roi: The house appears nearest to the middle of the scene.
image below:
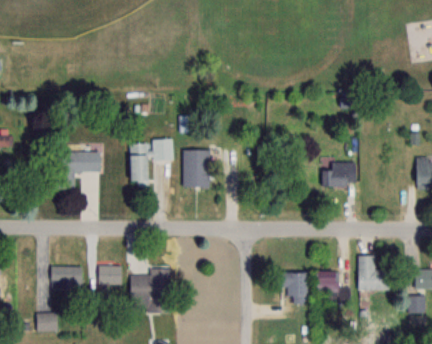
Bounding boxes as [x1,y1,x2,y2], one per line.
[183,150,210,192]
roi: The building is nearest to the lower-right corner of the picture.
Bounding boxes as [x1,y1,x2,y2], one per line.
[408,295,426,314]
